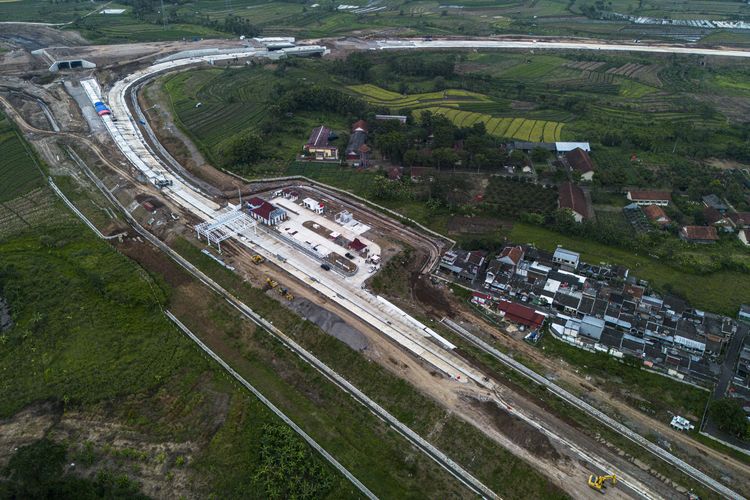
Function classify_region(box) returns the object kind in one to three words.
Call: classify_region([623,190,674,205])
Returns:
house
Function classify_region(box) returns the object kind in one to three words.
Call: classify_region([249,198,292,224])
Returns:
building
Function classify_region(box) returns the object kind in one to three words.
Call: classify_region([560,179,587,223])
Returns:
house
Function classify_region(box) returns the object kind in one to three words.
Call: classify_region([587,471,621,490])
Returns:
work vehicle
